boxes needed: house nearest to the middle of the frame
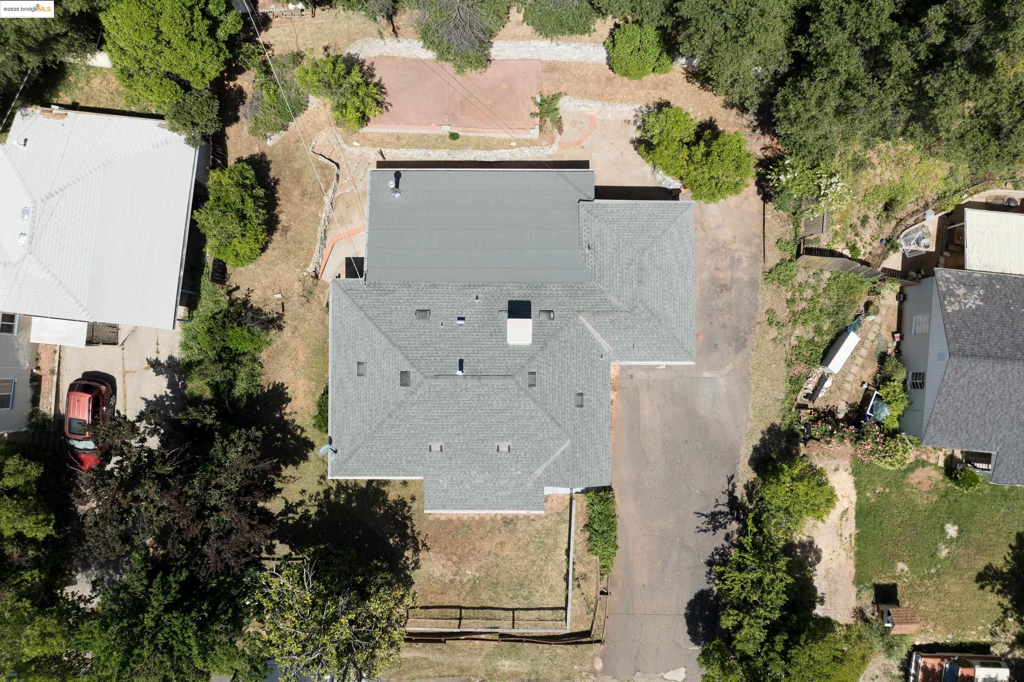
[328,167,697,516]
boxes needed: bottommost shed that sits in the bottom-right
[861,599,920,635]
